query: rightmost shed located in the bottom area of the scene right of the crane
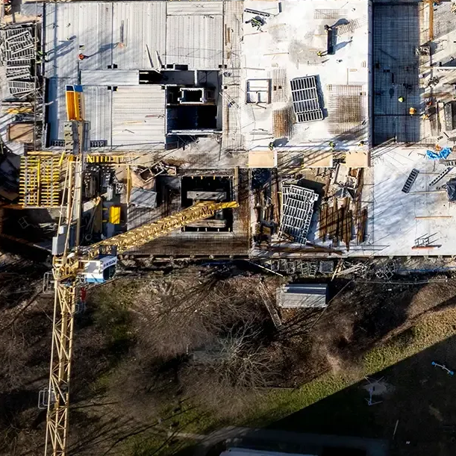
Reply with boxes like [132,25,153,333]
[276,280,331,308]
